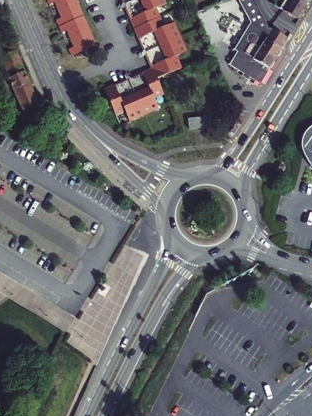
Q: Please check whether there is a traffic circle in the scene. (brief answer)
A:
Yes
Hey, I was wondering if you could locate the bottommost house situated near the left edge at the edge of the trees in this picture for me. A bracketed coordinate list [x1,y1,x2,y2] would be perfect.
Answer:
[10,72,34,109]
